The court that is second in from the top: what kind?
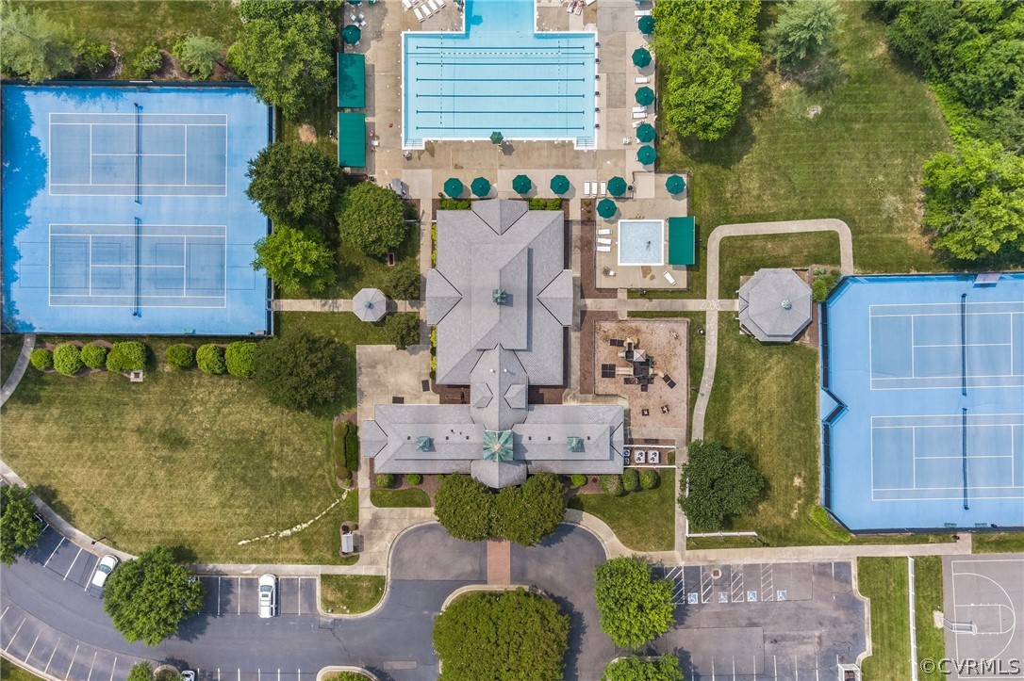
tennis court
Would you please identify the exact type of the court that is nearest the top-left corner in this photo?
tennis court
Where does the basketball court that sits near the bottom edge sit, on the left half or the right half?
right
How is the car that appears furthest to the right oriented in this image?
vertically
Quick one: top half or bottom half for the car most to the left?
bottom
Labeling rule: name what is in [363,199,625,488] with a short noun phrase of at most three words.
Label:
building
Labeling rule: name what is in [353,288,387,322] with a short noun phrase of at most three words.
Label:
gazebo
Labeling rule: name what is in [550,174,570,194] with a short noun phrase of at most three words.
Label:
umbrella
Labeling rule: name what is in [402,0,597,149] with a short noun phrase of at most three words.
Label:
swimming pool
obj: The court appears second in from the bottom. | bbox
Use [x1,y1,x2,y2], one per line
[871,408,1024,508]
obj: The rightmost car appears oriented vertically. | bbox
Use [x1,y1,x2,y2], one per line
[257,575,277,616]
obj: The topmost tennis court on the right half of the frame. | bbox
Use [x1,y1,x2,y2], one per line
[870,295,1024,395]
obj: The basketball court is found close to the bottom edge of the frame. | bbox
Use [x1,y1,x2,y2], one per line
[952,560,1024,679]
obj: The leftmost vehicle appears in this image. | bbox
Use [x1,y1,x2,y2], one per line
[89,553,118,591]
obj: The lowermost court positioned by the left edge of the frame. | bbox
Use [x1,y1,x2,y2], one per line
[20,216,256,314]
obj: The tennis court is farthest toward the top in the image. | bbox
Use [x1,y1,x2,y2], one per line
[49,101,227,205]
